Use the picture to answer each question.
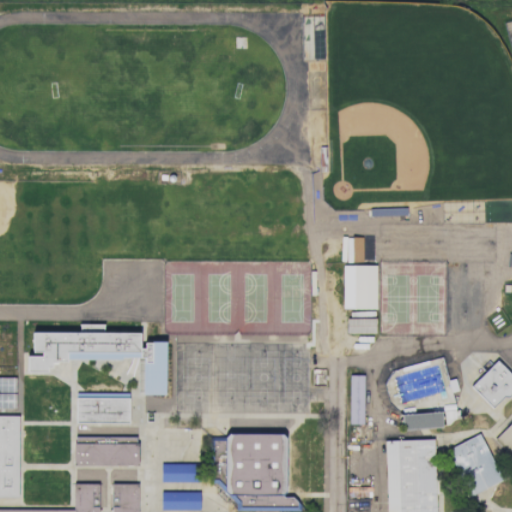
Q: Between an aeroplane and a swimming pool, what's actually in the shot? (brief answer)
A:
swimming pool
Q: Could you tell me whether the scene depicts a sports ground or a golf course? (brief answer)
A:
sports ground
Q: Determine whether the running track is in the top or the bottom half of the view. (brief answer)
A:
top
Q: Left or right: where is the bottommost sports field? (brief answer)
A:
left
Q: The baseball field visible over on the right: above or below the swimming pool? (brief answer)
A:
above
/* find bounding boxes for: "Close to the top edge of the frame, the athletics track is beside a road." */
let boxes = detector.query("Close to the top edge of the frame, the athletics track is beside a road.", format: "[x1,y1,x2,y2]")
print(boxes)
[0,12,310,164]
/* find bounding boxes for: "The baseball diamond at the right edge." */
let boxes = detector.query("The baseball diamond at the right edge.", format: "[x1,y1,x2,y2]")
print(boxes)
[325,3,512,211]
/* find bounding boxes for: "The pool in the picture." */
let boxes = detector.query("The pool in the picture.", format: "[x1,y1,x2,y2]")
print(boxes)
[388,358,455,412]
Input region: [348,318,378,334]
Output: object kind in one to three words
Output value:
shed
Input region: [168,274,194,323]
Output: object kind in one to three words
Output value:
tennis court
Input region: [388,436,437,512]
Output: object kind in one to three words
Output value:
building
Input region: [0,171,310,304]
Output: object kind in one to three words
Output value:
sports field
